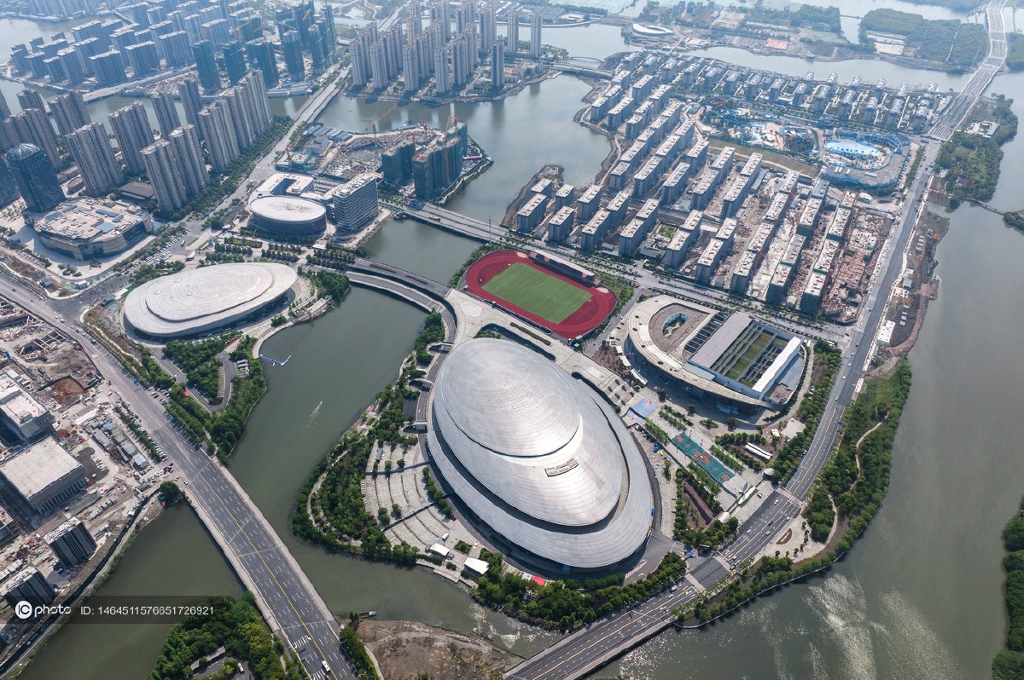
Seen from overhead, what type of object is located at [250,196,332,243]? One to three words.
stadium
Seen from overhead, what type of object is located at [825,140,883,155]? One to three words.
swimming pool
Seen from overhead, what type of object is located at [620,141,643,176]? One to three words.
building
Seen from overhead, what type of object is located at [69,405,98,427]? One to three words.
shed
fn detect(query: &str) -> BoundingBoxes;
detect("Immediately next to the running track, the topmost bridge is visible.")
[388,196,479,239]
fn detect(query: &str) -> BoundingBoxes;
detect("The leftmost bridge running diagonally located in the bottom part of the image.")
[196,496,376,680]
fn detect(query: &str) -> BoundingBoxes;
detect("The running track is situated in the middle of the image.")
[463,251,615,335]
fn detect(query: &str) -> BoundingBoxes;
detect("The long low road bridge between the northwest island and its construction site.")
[84,63,195,104]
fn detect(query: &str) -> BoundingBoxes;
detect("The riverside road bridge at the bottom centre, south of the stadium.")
[494,619,665,680]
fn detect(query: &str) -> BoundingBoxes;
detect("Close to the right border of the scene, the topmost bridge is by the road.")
[925,0,1009,141]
